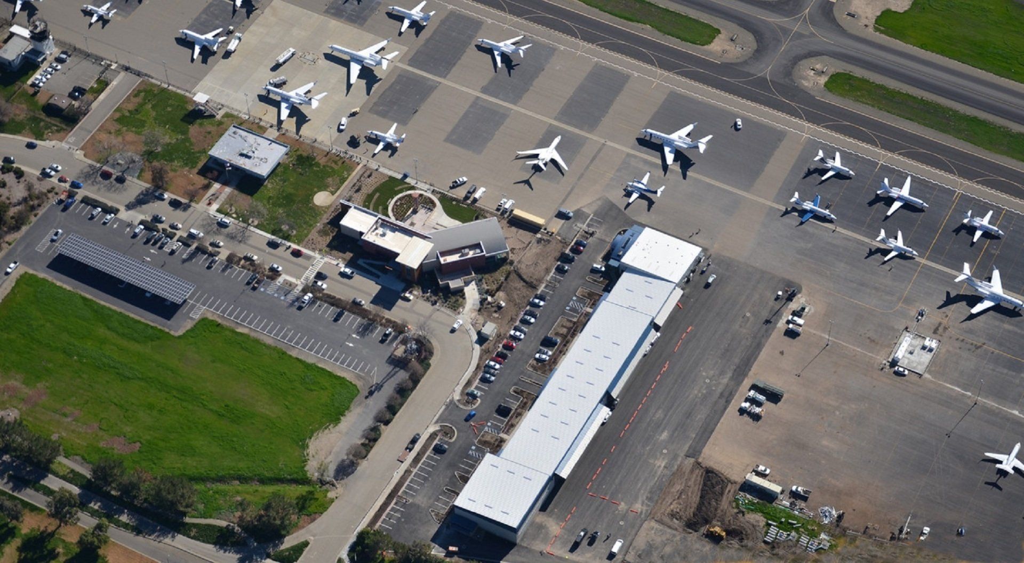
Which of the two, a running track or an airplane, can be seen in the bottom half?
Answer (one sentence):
It is an airplane that can be seen in the bottom half.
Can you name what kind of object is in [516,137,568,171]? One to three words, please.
airplane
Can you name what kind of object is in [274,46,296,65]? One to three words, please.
vehicle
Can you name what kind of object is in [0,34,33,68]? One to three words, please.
building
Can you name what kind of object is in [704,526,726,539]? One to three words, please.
vehicle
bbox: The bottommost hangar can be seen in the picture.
[452,450,551,546]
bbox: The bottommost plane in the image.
[987,442,1024,474]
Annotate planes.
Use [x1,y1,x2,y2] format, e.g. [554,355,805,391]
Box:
[642,120,716,165]
[627,170,667,203]
[963,208,1004,241]
[16,0,41,12]
[952,262,1024,314]
[83,1,117,22]
[328,34,403,85]
[790,190,837,221]
[388,0,439,31]
[516,137,568,171]
[987,442,1024,474]
[478,34,529,66]
[235,0,246,8]
[875,227,918,259]
[813,148,854,179]
[262,78,330,120]
[367,121,405,154]
[879,174,929,214]
[179,27,230,57]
